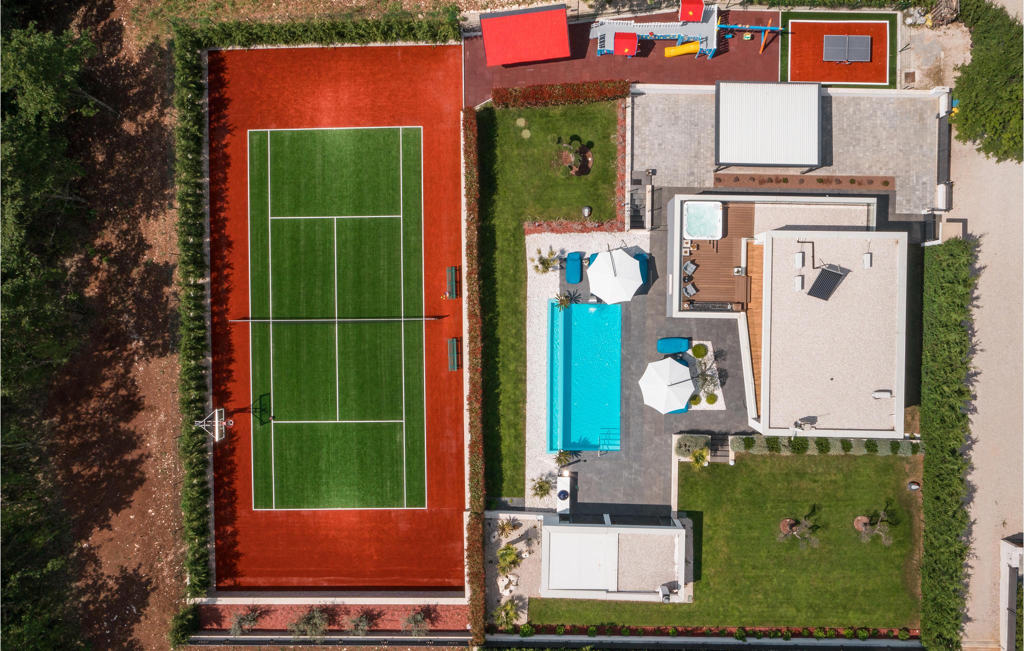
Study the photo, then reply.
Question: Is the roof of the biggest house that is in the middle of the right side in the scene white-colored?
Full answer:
Yes, white is the color of the roof of the biggest house that is in the middle of the right side.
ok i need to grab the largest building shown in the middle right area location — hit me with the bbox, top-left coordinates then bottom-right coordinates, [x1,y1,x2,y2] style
[665,195,907,439]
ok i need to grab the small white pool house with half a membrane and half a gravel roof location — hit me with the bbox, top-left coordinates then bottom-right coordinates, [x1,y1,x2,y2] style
[540,513,685,604]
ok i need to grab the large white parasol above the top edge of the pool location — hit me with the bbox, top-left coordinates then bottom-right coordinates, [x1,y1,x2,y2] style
[587,236,643,304]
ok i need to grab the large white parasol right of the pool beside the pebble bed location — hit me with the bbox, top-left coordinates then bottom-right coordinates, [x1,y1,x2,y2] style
[639,357,706,414]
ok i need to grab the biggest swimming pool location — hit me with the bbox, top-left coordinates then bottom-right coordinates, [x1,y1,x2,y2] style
[546,299,621,454]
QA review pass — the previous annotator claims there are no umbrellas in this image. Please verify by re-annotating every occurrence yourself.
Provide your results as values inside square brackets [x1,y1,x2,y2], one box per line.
[587,236,643,304]
[639,357,706,414]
